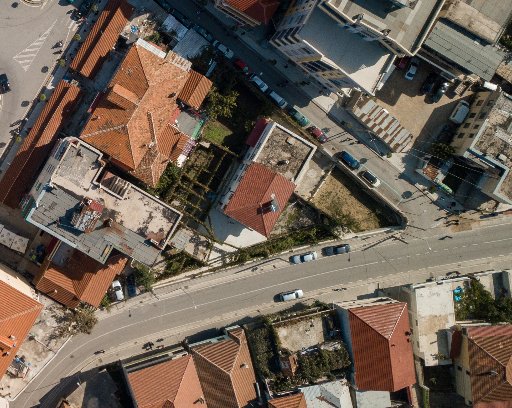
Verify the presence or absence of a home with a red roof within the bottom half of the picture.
Yes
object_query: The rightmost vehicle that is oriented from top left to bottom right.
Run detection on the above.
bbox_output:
[358,169,381,188]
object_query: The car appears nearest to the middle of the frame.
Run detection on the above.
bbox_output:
[291,251,316,263]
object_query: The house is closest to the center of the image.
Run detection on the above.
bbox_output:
[216,122,317,237]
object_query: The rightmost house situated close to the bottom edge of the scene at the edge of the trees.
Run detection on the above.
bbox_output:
[447,323,512,408]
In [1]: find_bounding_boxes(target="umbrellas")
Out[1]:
[0,226,17,247]
[10,235,30,255]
